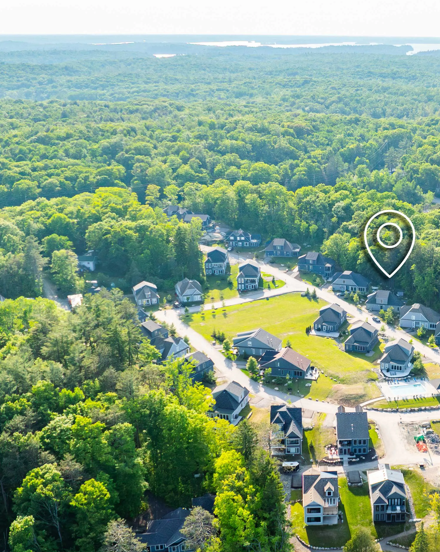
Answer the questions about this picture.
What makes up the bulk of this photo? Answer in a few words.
trees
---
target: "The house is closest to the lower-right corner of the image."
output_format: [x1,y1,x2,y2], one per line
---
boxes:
[366,461,408,523]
